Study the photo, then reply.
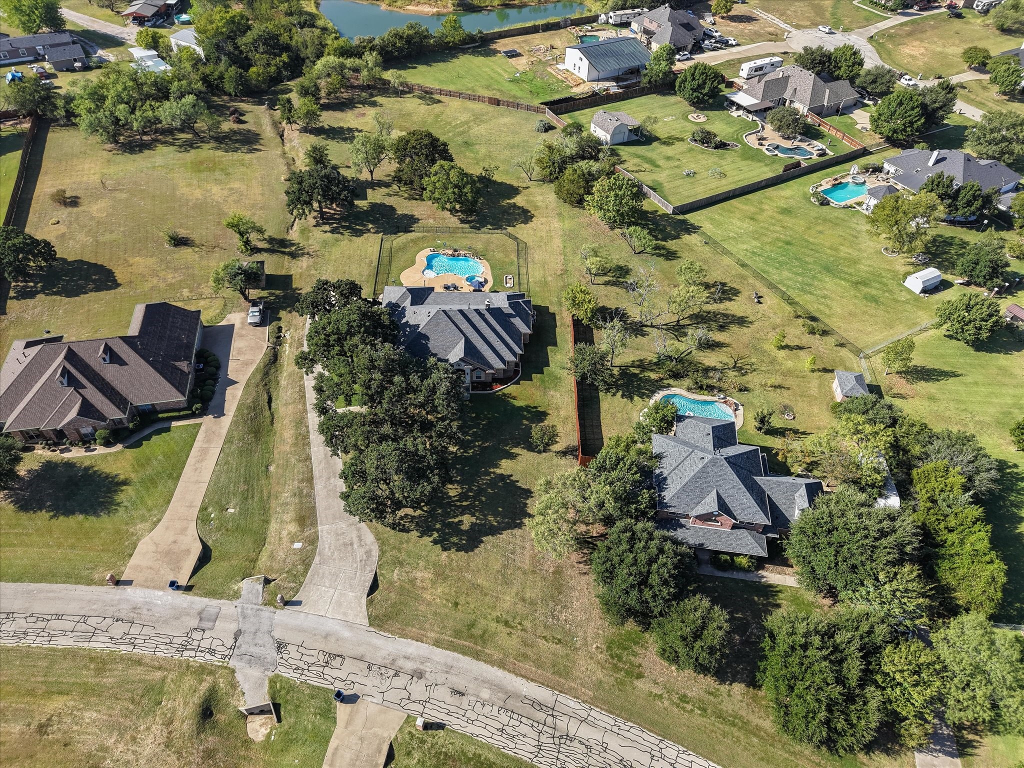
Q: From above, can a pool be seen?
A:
Yes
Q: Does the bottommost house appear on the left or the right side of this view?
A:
right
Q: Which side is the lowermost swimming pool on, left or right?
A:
right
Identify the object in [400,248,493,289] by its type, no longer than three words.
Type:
swimming pool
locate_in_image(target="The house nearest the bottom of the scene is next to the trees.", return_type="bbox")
[650,414,823,570]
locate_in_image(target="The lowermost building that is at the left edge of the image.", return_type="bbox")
[0,302,204,443]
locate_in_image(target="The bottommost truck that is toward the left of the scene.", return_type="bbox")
[245,297,267,329]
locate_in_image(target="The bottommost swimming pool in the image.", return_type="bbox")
[640,389,744,436]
